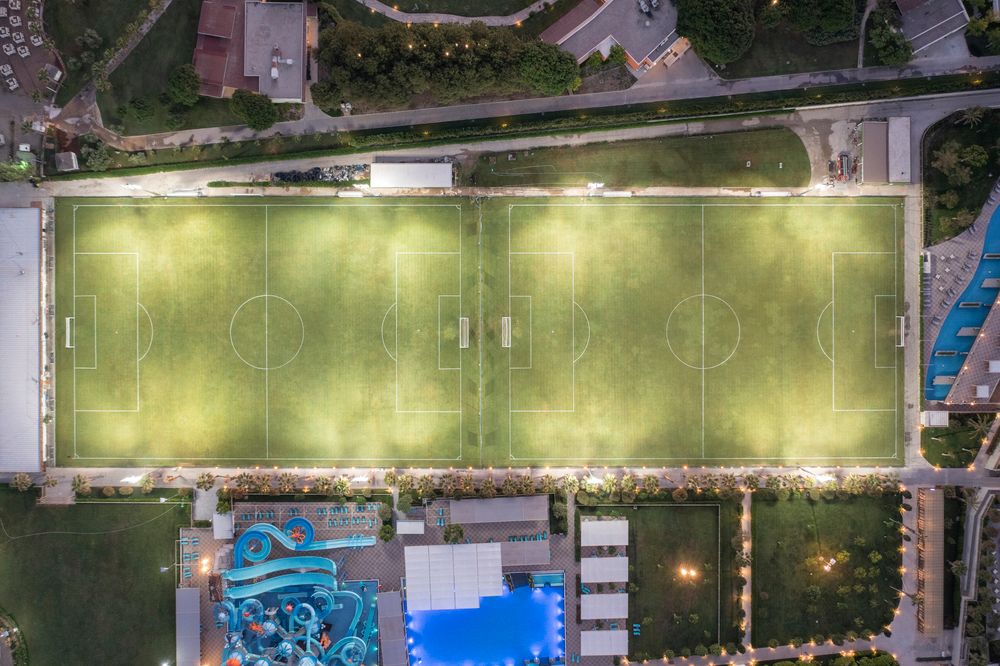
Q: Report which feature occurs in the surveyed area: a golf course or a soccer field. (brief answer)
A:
soccer field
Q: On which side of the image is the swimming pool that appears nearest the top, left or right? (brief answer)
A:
right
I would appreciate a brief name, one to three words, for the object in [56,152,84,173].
shed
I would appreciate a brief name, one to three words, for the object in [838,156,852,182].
vehicle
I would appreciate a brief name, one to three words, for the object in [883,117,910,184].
building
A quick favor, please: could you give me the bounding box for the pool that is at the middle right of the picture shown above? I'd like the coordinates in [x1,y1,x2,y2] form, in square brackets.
[926,203,1000,403]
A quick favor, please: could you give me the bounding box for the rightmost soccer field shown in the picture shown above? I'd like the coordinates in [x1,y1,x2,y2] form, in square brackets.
[510,204,899,460]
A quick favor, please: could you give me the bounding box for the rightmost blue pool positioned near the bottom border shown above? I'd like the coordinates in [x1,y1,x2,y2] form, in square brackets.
[401,568,566,666]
